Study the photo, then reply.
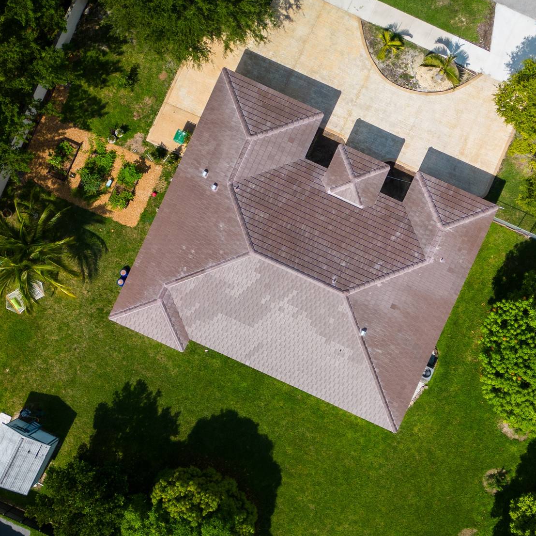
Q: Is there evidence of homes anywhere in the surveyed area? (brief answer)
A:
Yes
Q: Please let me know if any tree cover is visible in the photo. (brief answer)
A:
Yes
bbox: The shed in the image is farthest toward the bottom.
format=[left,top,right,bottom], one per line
[0,416,58,494]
